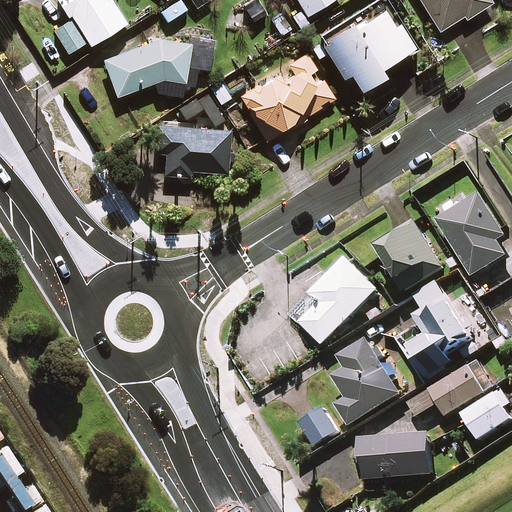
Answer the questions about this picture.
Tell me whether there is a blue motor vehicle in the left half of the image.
Yes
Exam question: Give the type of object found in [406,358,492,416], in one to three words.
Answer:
house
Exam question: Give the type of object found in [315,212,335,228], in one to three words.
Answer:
car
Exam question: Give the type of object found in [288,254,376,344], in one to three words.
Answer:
building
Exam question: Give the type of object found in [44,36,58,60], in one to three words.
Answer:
boat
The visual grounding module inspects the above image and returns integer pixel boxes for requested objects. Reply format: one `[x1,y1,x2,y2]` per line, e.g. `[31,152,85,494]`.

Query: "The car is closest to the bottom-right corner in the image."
[365,322,385,338]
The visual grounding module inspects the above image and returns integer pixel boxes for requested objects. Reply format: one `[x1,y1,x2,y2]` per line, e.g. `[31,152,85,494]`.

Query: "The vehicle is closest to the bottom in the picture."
[148,398,166,422]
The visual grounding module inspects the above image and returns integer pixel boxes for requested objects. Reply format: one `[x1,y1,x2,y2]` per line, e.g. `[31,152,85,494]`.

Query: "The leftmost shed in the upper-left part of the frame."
[54,21,86,54]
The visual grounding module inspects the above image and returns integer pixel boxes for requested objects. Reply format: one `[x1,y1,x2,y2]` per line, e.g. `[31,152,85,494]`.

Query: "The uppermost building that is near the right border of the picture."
[421,0,494,32]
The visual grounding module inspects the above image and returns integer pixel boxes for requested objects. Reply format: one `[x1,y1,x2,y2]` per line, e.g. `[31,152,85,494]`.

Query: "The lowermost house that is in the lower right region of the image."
[354,430,435,480]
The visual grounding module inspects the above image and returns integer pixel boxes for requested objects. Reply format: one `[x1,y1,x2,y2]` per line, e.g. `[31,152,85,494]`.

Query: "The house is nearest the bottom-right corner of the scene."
[458,388,512,440]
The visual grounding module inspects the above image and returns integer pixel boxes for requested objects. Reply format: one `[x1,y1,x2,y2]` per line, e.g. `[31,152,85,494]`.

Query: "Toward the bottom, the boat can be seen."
[498,321,512,337]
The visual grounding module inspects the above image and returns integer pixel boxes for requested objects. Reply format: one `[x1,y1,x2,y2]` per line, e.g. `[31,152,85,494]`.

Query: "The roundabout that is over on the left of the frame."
[94,281,176,362]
